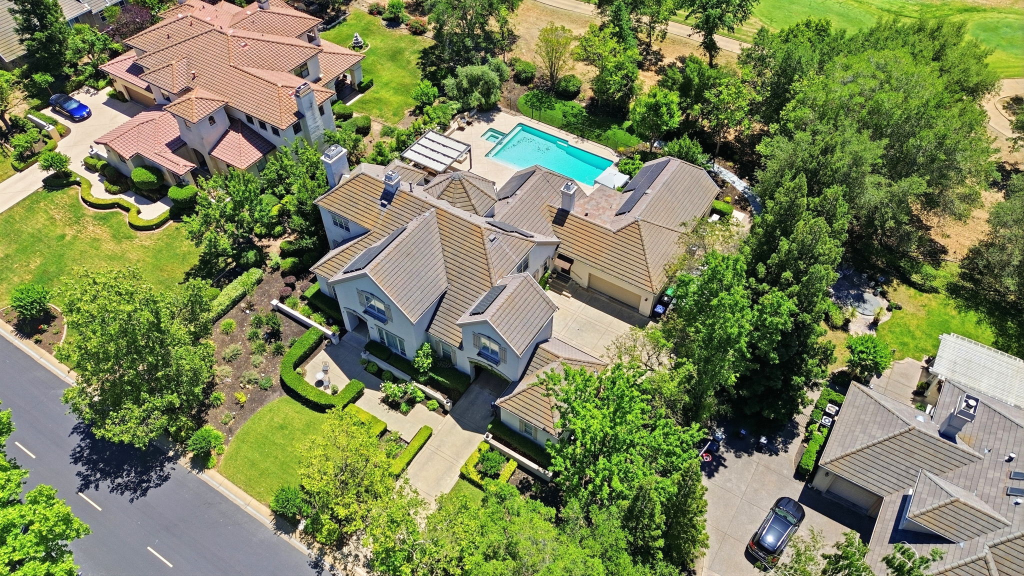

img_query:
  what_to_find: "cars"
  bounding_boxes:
[745,497,804,566]
[50,95,93,119]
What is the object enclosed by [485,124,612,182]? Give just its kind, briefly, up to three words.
swimming pool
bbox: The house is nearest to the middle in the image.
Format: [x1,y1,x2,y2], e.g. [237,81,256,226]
[306,149,725,454]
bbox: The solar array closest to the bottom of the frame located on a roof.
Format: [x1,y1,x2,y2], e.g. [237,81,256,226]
[469,285,508,318]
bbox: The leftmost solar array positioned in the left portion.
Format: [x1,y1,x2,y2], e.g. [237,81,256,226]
[342,224,406,272]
